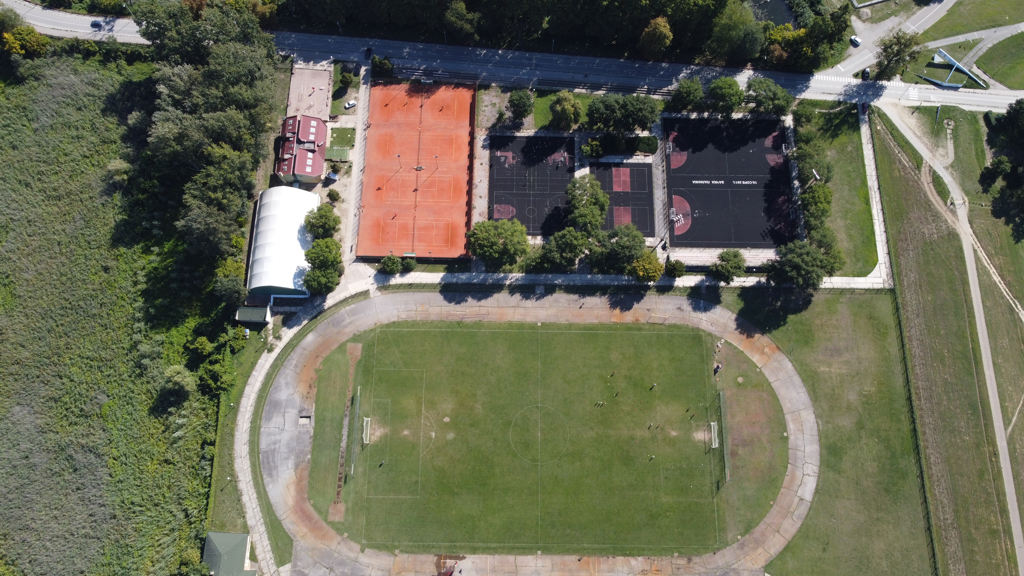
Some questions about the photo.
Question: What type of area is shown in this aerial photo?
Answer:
sports ground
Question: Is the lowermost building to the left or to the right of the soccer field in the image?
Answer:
to the left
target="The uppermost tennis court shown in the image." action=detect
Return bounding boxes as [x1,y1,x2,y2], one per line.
[368,85,477,128]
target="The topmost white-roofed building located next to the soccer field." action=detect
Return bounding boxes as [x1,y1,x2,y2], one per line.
[246,182,321,307]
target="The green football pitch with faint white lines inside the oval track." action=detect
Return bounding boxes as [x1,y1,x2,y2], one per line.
[309,320,788,556]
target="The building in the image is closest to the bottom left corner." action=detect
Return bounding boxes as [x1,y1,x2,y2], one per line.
[201,532,260,576]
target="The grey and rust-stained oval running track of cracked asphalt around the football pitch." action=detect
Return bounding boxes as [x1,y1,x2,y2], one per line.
[259,292,820,576]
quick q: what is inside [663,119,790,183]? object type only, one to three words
sports court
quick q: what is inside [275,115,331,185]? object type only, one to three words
building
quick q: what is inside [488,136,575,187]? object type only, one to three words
basketball court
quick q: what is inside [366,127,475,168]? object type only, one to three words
tennis court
